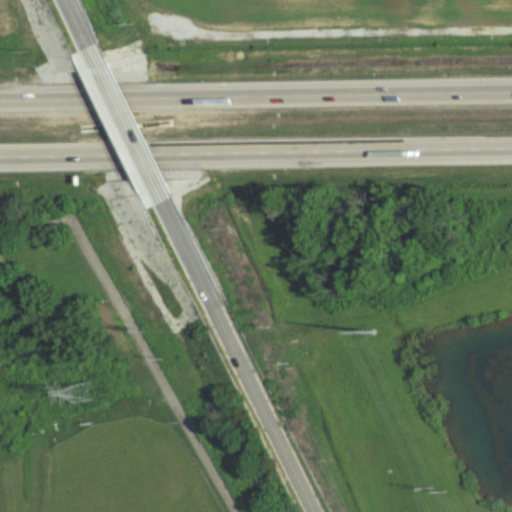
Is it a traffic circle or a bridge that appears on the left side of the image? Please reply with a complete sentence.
The feature located on the left side of the image is a bridge.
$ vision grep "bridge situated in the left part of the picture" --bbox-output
[69,42,172,210]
